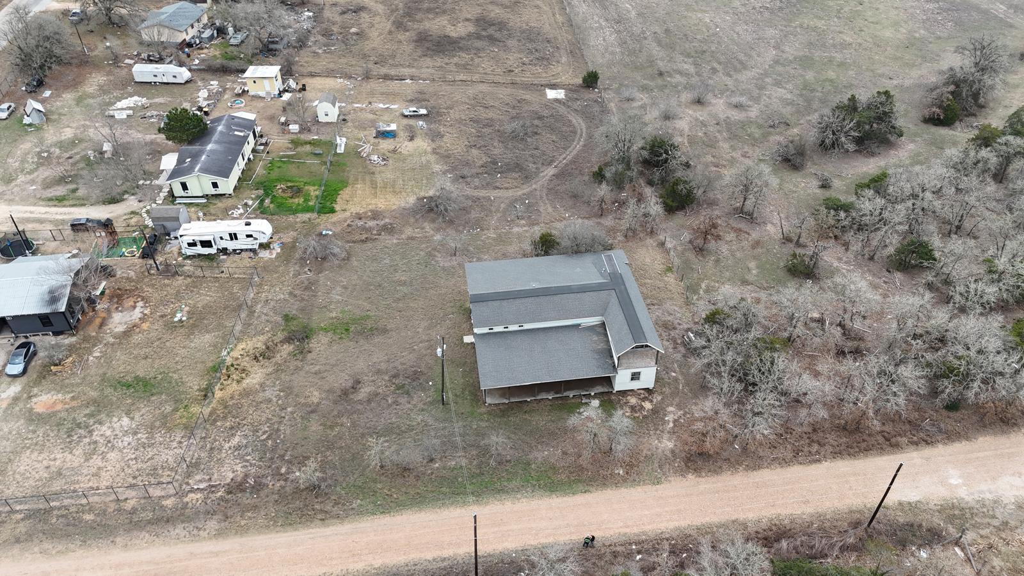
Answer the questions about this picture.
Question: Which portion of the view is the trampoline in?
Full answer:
The trampoline is in the left part of the image.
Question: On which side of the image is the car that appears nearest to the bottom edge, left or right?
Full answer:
You can find the car that appears nearest to the bottom edge on the left side of the picture.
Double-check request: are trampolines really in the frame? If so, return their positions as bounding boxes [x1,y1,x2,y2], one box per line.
[0,222,38,260]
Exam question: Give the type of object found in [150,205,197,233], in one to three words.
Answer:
shed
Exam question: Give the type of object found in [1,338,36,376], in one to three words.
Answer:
car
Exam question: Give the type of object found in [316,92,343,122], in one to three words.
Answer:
shed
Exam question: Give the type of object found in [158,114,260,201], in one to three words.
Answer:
house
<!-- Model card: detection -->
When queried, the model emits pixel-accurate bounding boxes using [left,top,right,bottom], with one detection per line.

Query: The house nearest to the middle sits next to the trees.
[464,251,664,409]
